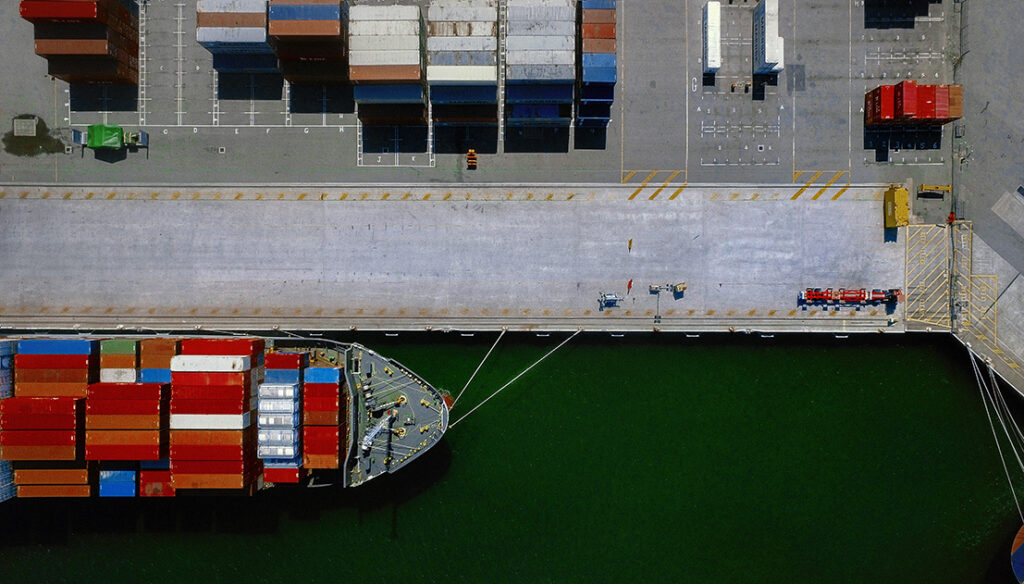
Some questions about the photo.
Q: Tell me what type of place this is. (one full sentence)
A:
It's a port.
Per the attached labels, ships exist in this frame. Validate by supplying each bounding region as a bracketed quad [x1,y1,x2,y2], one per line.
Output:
[1010,525,1024,584]
[0,333,455,498]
